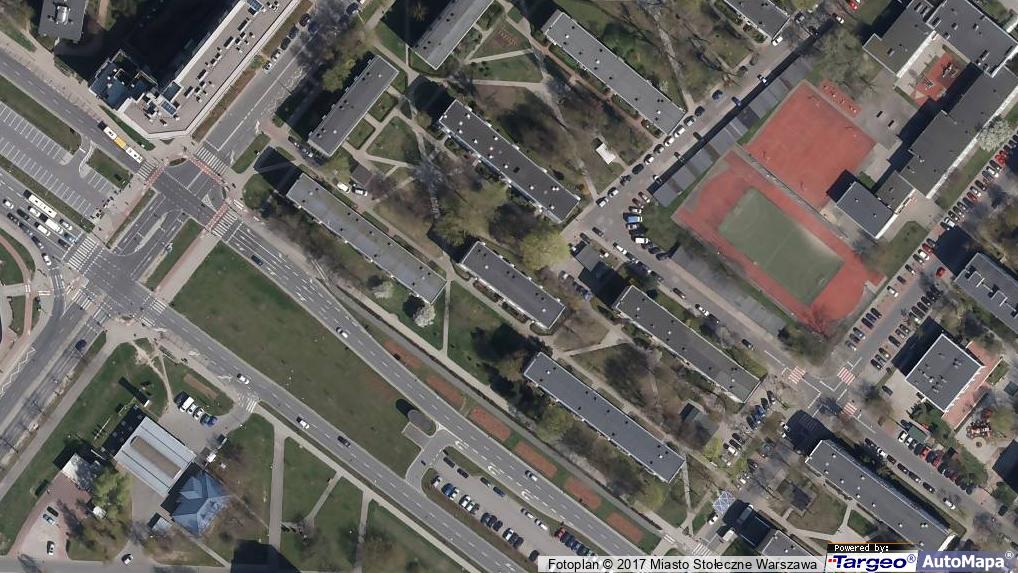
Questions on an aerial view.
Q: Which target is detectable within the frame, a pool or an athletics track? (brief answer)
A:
athletics track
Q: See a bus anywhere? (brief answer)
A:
Yes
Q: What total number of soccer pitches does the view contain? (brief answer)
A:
1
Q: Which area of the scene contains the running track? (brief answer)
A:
right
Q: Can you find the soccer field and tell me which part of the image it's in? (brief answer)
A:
right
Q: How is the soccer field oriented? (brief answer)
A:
on a diagonal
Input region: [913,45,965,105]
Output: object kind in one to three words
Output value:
playground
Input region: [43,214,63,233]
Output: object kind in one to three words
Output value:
vehicle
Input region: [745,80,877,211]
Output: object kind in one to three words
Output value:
sports court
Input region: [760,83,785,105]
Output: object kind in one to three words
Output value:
building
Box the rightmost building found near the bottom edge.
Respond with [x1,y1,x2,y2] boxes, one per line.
[805,441,947,558]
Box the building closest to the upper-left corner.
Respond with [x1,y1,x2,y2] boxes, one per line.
[39,0,87,42]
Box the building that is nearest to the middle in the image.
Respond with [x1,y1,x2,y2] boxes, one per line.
[461,241,567,329]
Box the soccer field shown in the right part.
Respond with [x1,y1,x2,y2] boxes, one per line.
[719,188,843,303]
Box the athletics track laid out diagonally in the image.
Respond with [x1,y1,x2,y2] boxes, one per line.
[672,151,888,339]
